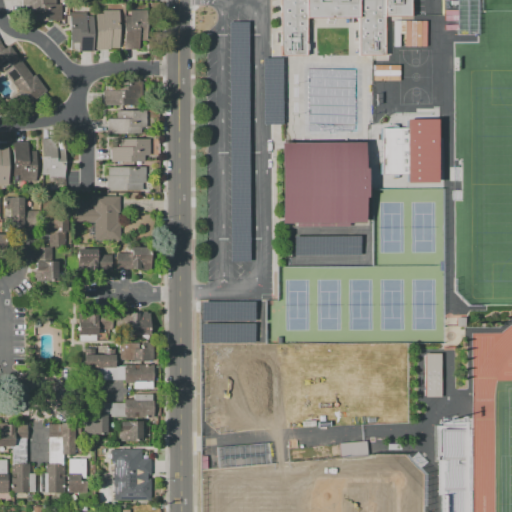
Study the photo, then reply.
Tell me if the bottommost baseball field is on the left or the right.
right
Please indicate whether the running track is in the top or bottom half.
bottom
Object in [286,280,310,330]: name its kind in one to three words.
tennis court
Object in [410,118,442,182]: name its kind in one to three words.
building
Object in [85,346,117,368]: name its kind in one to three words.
house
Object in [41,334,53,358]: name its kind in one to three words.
swimming pool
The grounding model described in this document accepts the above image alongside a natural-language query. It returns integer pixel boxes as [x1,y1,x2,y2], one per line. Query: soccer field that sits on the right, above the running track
[456,0,512,304]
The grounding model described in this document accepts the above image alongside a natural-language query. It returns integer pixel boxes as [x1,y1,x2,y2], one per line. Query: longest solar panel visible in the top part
[230,20,251,261]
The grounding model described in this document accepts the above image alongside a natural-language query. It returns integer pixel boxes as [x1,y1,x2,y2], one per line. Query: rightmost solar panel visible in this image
[296,236,363,255]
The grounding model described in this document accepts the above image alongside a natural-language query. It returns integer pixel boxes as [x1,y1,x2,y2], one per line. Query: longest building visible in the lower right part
[424,353,444,398]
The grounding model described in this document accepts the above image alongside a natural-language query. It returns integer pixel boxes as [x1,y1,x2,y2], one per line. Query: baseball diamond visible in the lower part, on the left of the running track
[350,454,425,512]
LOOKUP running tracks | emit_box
[473,326,512,512]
